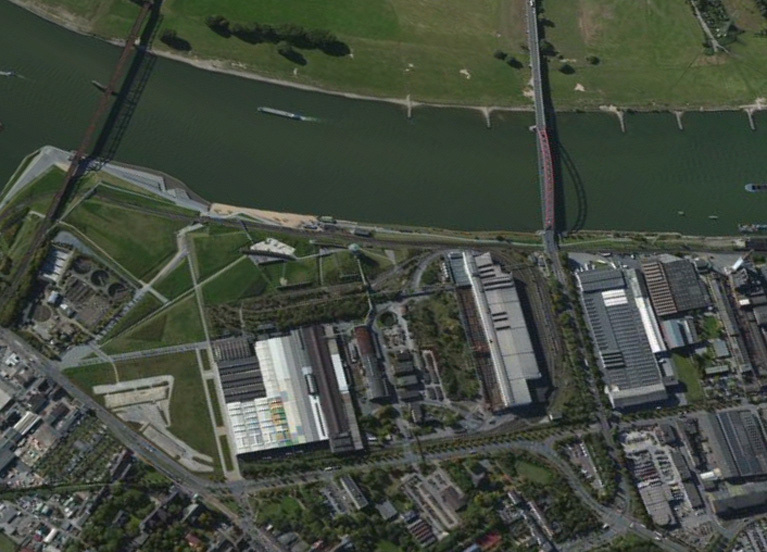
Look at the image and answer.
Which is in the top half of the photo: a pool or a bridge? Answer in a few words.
bridge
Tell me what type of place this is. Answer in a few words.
port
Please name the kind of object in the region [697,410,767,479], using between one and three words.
building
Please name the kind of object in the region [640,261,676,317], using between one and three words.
building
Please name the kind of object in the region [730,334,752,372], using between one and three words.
shed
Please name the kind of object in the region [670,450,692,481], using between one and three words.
shed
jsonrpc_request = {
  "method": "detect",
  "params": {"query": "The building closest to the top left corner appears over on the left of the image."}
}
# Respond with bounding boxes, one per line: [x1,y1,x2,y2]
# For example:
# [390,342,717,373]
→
[42,249,73,282]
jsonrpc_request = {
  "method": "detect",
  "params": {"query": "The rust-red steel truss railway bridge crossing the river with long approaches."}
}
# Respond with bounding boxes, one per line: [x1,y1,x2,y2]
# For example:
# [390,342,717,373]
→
[47,0,147,222]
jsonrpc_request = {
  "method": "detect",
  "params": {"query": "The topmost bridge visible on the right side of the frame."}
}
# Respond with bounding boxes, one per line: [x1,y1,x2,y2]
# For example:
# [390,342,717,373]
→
[529,0,556,252]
